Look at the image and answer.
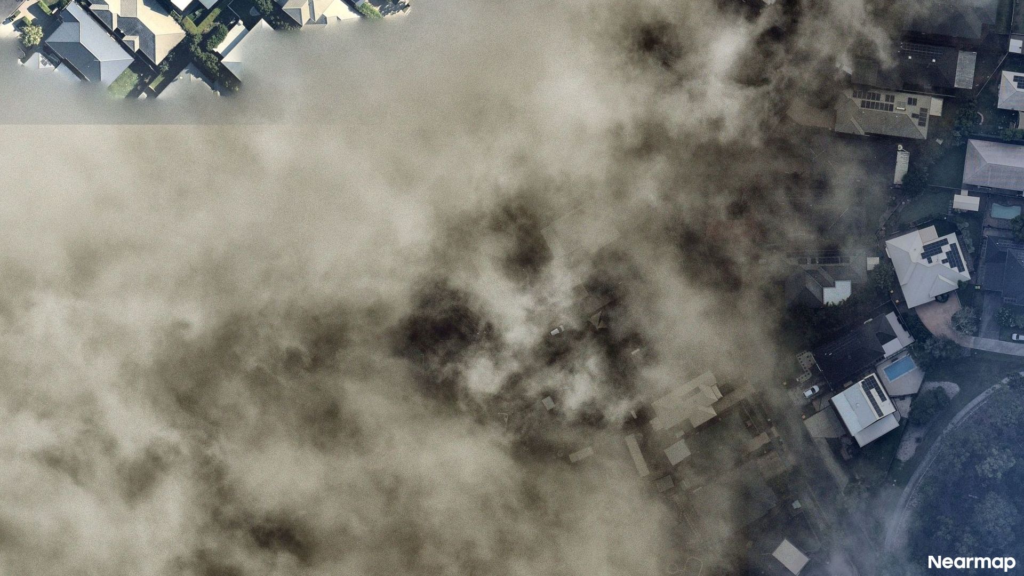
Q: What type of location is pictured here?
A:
residential area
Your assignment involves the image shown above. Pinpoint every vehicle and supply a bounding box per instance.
[548,324,565,336]
[1011,333,1024,341]
[802,385,819,398]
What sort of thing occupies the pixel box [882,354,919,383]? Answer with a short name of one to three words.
swimming pool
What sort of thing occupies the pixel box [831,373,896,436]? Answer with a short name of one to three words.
house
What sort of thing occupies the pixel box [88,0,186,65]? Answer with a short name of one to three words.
house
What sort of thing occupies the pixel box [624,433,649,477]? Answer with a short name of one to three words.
shed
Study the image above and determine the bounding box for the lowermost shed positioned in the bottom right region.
[772,539,808,576]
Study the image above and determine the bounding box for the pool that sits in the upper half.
[990,202,1022,220]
